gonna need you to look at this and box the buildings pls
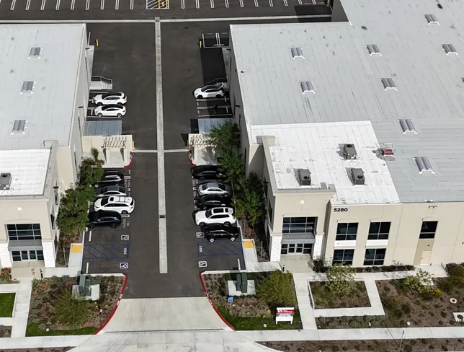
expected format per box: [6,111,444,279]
[0,24,91,267]
[223,0,464,266]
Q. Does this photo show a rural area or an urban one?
urban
